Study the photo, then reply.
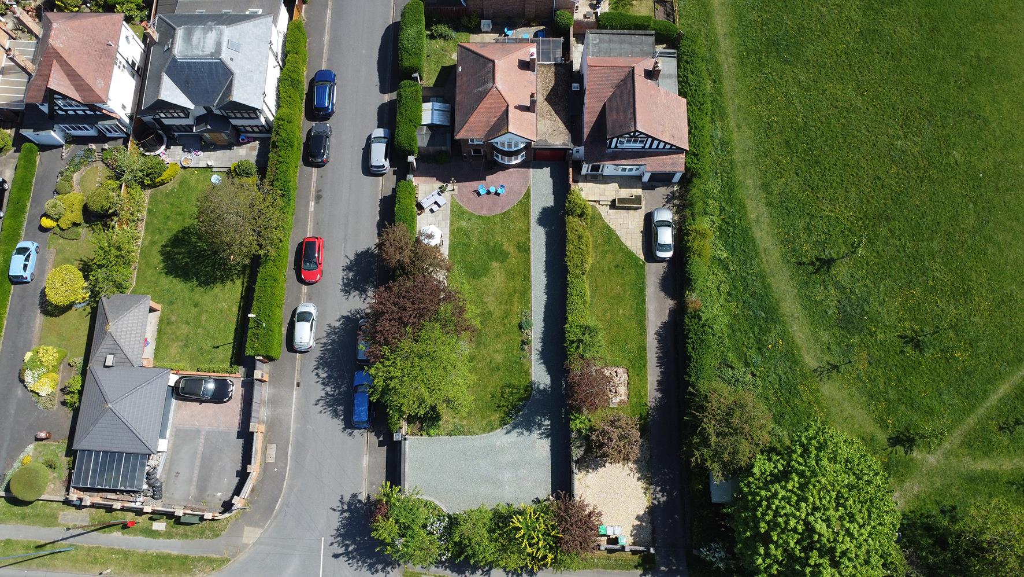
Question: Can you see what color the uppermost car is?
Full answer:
The uppermost car is blue.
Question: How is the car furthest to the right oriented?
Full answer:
From this overhead view, the car furthest to the right appears to run up and down.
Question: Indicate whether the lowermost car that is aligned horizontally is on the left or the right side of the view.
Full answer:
The lowermost car that is aligned horizontally sits on the left side.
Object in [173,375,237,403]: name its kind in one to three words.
car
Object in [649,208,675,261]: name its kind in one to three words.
car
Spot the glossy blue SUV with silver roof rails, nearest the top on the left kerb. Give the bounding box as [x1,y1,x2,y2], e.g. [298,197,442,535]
[312,72,339,122]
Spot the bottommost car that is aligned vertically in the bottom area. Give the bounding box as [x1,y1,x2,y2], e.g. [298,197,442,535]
[347,370,376,429]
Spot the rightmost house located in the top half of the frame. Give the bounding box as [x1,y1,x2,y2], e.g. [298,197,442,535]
[571,29,692,180]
